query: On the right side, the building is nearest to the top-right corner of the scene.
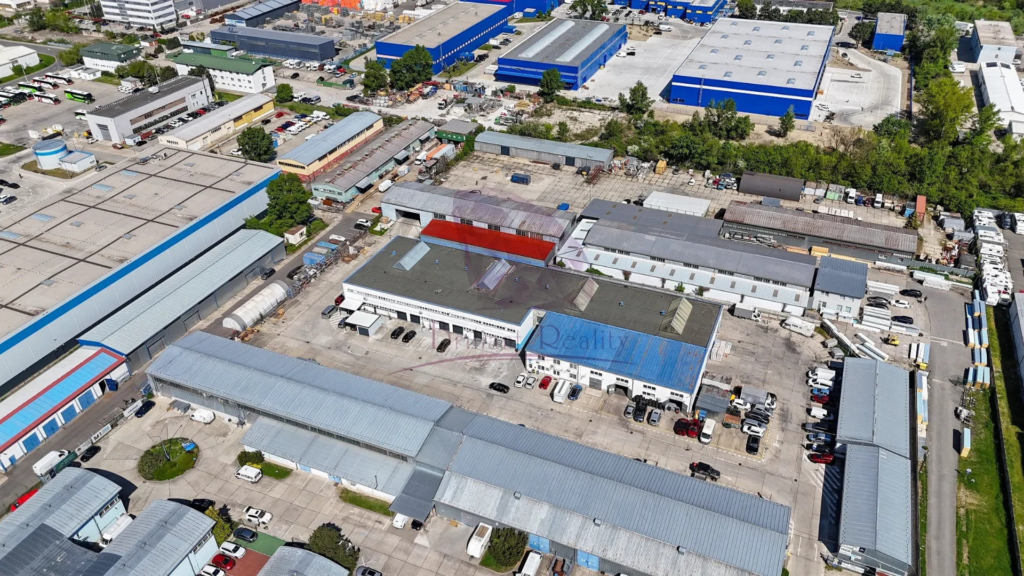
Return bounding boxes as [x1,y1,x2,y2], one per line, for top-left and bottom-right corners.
[971,19,1019,64]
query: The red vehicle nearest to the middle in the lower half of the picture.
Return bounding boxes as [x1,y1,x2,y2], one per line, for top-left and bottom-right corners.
[536,374,552,391]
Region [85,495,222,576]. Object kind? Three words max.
building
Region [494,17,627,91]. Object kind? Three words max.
building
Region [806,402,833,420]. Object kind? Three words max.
vehicle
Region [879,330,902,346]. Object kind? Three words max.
work vehicle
